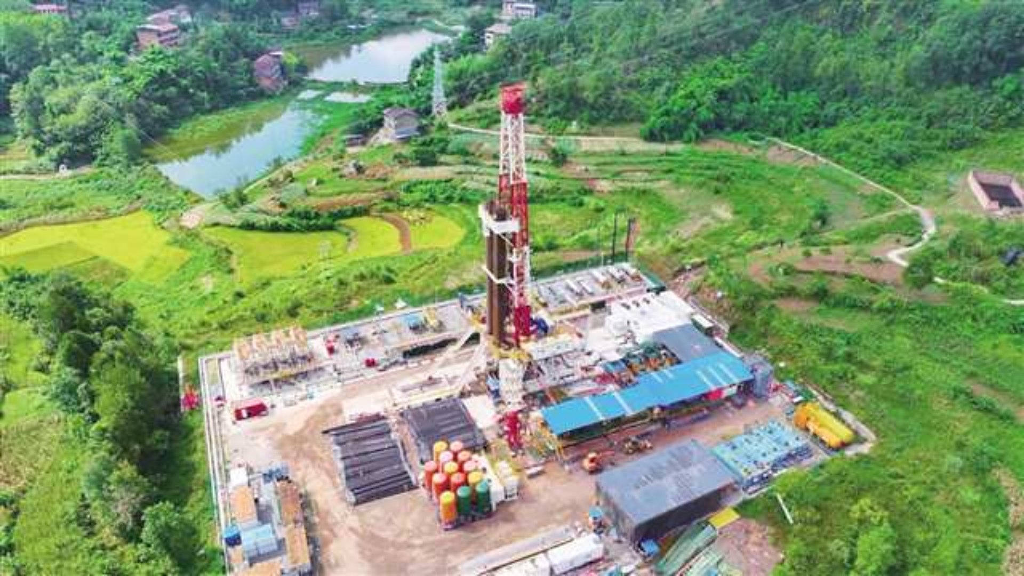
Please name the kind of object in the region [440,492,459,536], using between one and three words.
silo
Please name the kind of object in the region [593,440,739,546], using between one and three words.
shed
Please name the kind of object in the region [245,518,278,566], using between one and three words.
building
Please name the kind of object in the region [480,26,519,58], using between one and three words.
house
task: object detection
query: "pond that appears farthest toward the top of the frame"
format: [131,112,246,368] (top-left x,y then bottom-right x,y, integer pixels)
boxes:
[305,29,438,82]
